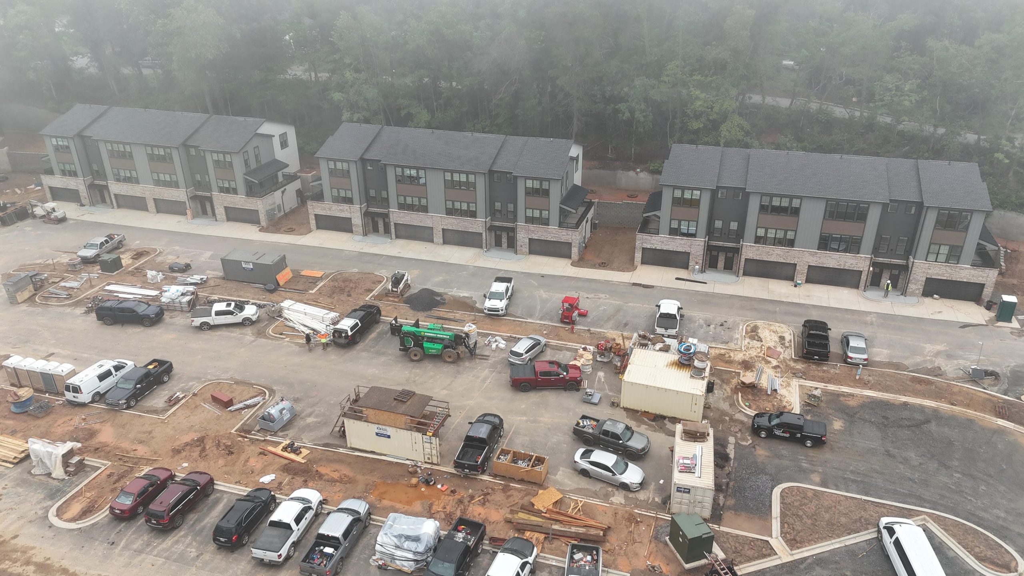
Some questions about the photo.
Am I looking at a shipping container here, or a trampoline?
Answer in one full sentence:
Looking from above, you can make out a shipping container.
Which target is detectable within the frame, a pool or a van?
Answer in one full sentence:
There is a van in the scene.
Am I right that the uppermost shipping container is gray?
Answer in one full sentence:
Yes, gray is the color of the uppermost shipping container.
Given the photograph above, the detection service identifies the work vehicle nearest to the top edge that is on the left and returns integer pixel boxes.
[34,196,63,225]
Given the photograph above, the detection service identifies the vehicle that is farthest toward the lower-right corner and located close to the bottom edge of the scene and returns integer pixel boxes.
[878,519,958,576]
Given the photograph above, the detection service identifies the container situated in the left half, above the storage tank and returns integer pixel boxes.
[220,249,292,286]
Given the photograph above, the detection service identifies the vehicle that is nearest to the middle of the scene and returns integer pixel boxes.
[480,277,515,317]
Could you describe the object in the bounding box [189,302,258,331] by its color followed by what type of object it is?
white truck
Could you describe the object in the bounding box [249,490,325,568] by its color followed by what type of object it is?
white truck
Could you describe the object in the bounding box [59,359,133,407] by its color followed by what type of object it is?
white van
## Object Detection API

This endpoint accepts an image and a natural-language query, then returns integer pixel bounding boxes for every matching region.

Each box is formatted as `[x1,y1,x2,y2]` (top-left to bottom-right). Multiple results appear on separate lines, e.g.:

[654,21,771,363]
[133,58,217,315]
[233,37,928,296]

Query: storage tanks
[258,398,295,431]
